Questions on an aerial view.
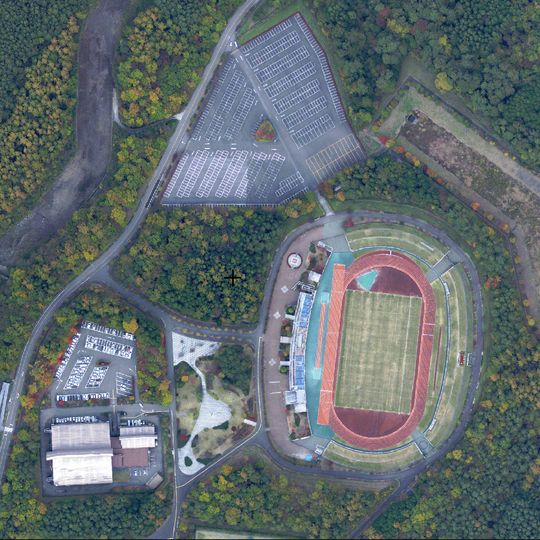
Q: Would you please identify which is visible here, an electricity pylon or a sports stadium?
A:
sports stadium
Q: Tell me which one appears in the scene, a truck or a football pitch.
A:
football pitch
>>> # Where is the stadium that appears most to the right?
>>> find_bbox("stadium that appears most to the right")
[306,217,475,472]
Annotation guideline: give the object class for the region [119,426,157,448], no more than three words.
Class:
building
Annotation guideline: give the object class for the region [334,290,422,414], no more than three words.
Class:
soccer field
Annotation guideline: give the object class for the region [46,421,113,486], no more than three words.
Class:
building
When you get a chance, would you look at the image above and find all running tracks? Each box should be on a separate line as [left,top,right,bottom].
[319,251,435,450]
